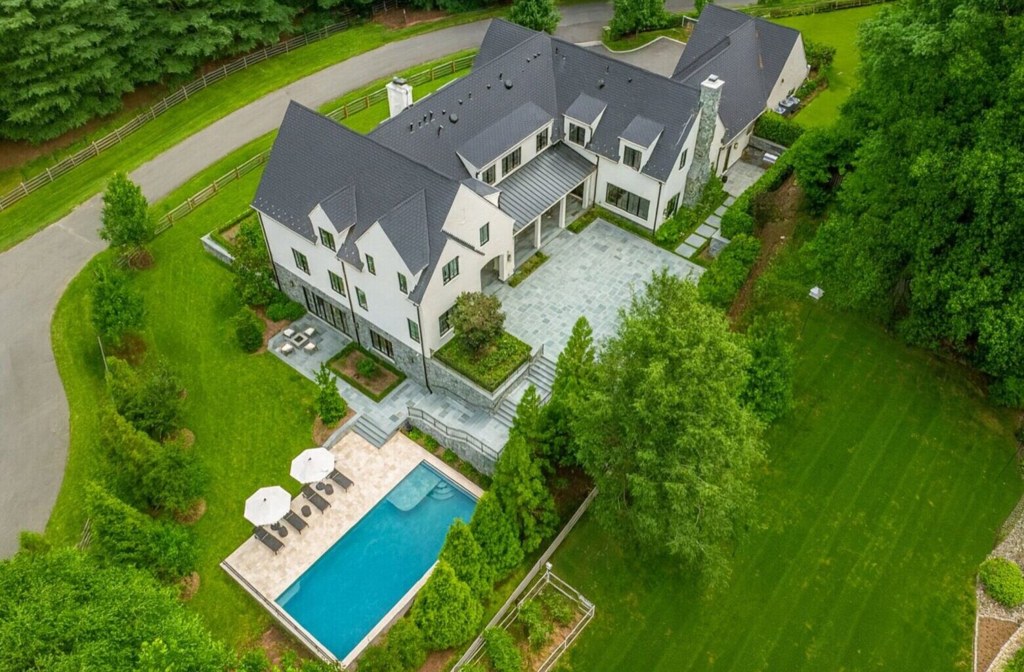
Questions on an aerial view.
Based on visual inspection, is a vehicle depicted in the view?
No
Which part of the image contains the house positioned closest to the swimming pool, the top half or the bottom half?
top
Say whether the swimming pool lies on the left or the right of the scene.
left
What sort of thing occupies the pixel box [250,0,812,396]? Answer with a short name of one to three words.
house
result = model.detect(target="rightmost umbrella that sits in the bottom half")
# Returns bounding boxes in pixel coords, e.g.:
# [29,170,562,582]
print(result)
[287,448,334,496]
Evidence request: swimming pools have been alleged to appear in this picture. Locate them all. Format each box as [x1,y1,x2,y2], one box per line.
[217,460,488,672]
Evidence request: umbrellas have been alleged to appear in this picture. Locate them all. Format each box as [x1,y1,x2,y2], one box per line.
[287,448,334,496]
[241,486,291,536]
